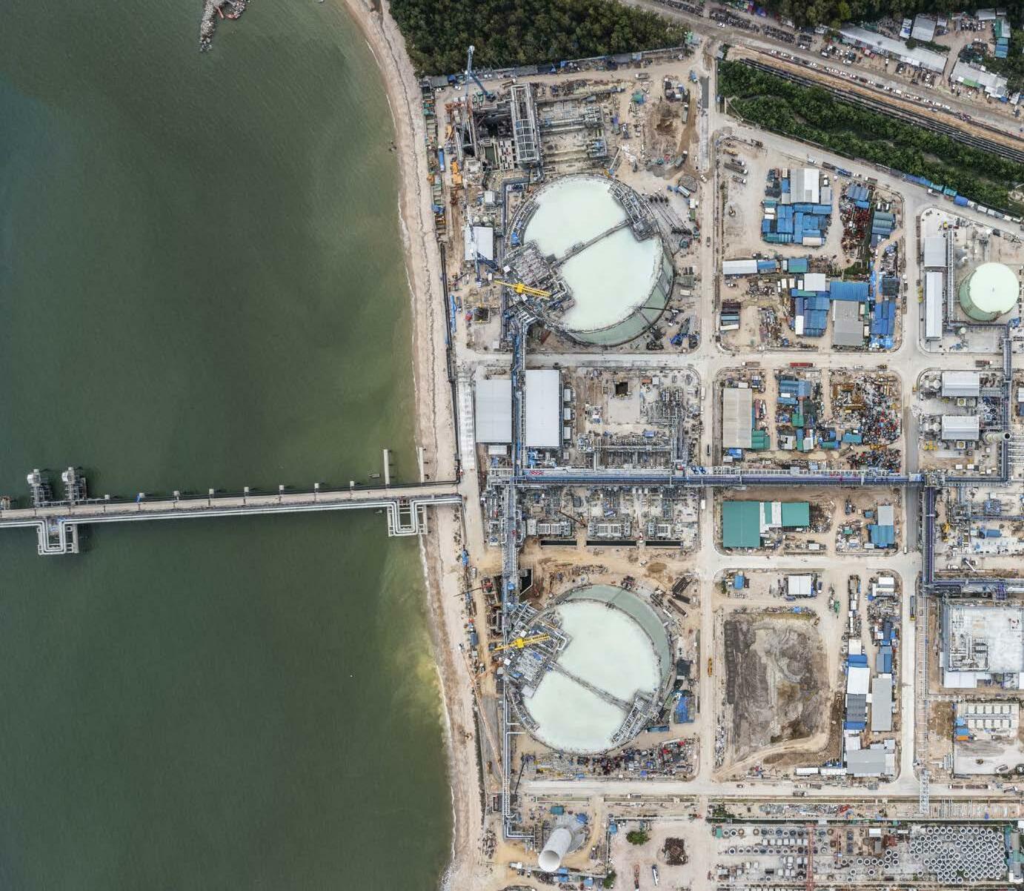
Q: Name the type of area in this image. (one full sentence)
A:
The picture captures an industrial area.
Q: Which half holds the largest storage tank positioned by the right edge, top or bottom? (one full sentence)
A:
The largest storage tank positioned by the right edge is in the top half of the image.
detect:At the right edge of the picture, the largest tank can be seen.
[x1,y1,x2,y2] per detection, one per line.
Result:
[960,263,1023,322]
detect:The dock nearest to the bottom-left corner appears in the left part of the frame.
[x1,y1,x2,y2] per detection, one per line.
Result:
[0,484,461,555]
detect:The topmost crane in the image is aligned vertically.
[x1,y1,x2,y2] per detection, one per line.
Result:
[460,45,496,161]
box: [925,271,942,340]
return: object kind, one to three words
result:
building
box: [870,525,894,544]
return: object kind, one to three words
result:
shed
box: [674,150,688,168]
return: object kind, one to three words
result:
vehicle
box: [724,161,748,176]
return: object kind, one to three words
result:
vehicle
